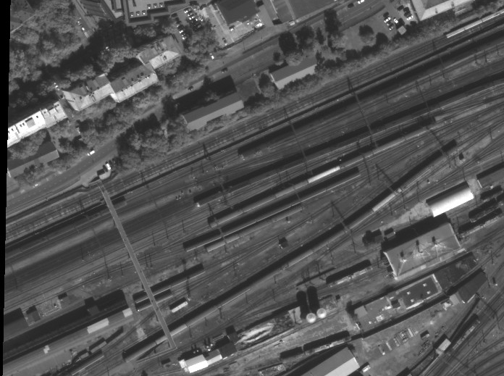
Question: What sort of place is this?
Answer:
rail yard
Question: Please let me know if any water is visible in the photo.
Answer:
No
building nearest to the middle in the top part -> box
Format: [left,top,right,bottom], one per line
[178,90,244,131]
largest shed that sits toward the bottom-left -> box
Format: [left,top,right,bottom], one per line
[1,290,128,360]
